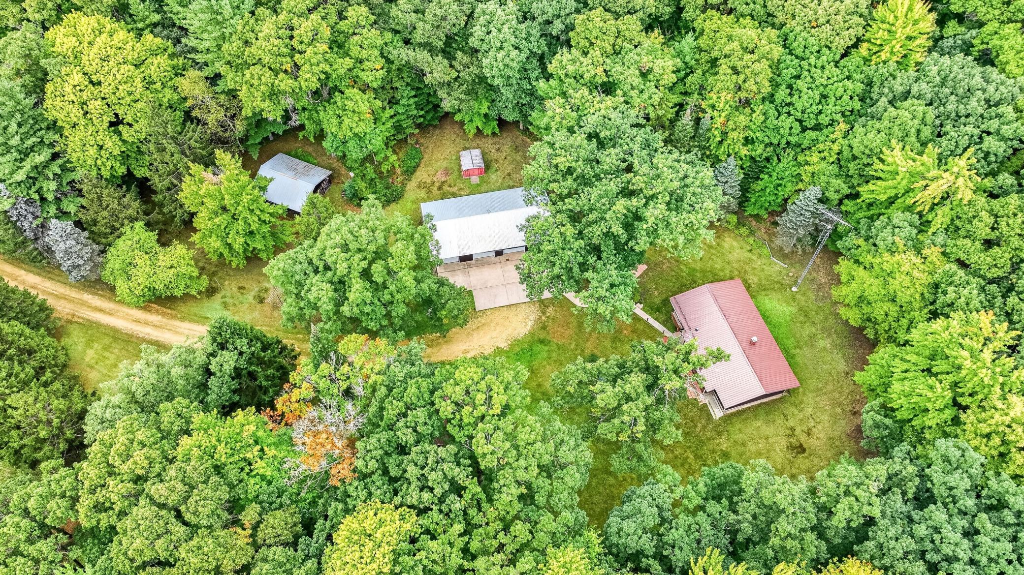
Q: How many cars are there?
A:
0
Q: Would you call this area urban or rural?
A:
rural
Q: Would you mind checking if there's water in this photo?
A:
No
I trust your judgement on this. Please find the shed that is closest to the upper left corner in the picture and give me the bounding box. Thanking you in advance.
[254,152,336,217]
